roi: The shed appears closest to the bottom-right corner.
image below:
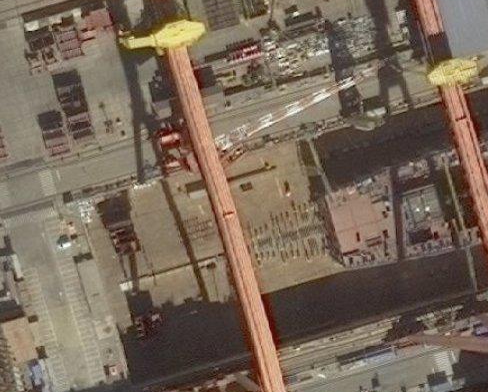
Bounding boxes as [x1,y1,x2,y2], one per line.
[427,378,460,392]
